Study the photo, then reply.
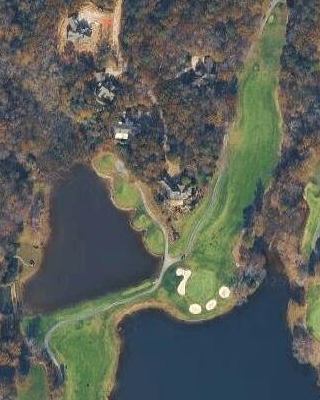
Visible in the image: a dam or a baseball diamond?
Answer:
dam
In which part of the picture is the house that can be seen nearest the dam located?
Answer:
center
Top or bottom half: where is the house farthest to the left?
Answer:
top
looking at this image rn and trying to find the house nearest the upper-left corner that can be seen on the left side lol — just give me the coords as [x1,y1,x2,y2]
[67,17,95,41]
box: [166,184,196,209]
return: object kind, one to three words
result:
house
